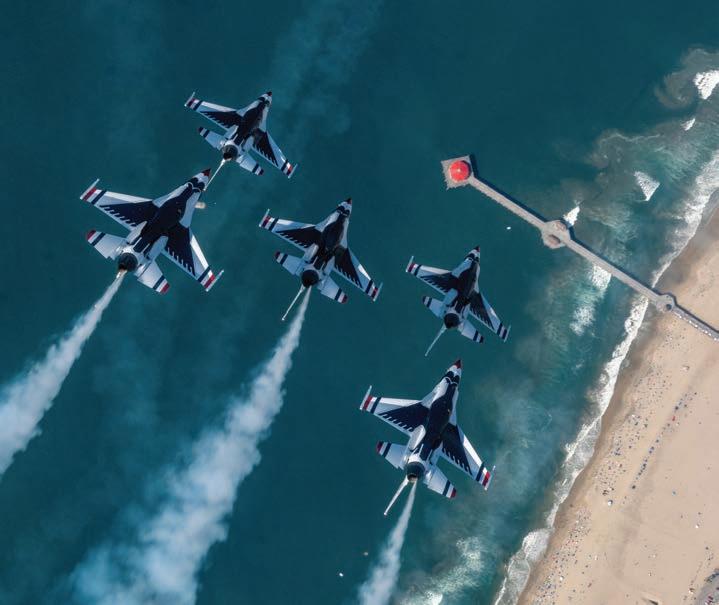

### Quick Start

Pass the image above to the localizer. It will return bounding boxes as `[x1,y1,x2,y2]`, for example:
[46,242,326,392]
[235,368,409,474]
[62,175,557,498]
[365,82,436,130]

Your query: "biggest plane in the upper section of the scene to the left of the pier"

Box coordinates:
[80,168,222,307]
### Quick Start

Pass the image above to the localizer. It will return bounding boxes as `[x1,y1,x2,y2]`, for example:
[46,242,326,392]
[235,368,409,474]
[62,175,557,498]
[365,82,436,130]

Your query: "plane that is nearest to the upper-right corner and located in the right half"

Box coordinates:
[407,244,510,357]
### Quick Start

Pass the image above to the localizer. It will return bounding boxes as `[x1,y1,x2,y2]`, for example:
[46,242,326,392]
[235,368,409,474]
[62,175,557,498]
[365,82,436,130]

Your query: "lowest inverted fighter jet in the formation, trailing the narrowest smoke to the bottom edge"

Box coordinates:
[360,358,494,514]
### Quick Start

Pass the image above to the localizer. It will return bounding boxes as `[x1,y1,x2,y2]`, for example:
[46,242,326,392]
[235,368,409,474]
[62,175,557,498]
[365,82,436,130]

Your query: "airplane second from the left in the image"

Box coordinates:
[185,91,297,191]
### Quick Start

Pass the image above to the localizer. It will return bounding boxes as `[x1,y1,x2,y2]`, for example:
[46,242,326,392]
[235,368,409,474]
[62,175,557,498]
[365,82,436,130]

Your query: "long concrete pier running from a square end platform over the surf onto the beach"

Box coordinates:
[441,156,719,345]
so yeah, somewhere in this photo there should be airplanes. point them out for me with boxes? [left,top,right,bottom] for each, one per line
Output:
[407,244,510,357]
[360,358,494,514]
[185,91,297,191]
[260,196,381,320]
[80,168,222,307]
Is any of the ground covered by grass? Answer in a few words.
No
